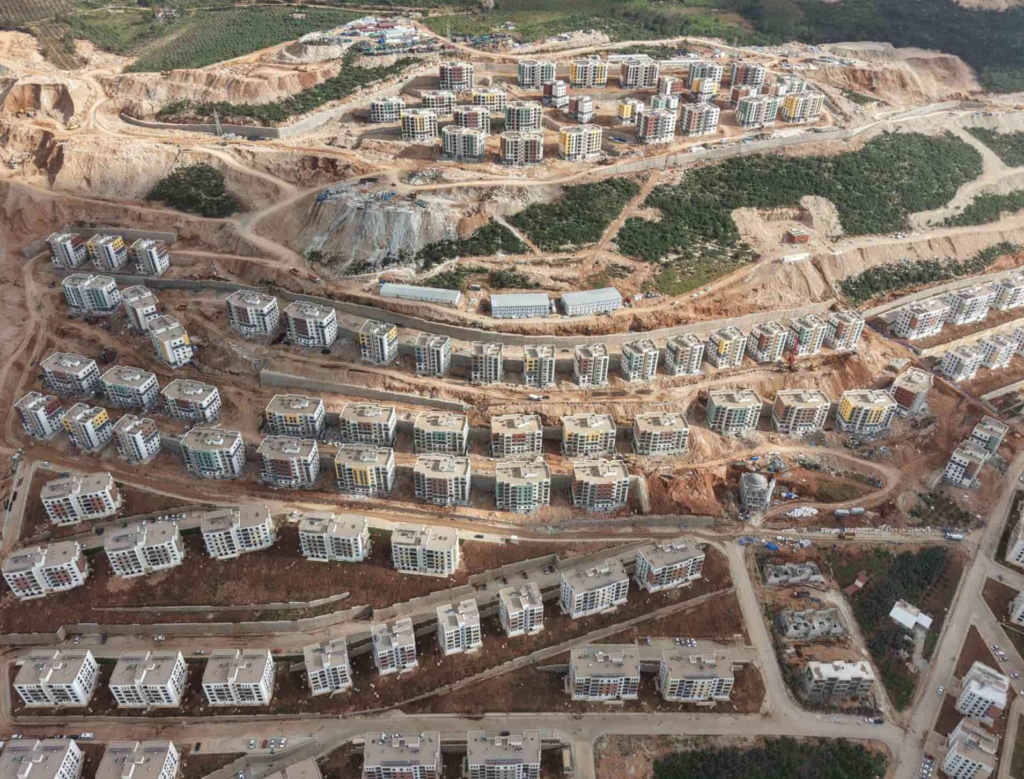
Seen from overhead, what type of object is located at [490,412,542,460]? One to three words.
building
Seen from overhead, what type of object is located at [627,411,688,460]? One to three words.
building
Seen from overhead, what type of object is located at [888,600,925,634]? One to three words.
house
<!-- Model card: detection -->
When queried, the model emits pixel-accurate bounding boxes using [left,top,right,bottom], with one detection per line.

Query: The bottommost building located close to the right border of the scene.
[939,722,998,779]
